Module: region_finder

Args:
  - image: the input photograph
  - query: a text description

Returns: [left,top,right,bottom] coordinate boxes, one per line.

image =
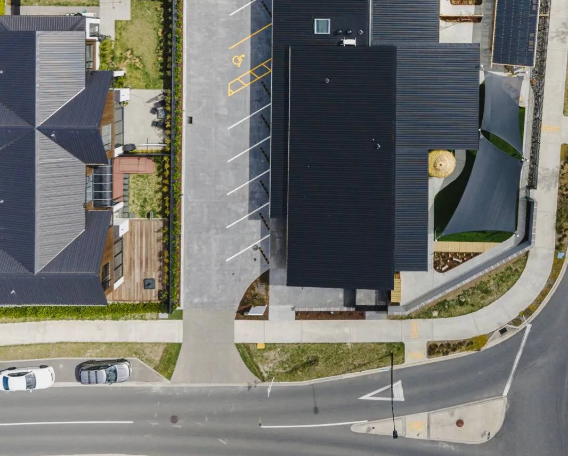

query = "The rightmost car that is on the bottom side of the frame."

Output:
[76,357,135,388]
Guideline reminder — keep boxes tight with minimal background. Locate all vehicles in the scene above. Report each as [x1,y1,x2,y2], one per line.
[76,357,135,388]
[0,362,54,394]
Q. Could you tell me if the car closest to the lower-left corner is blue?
No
